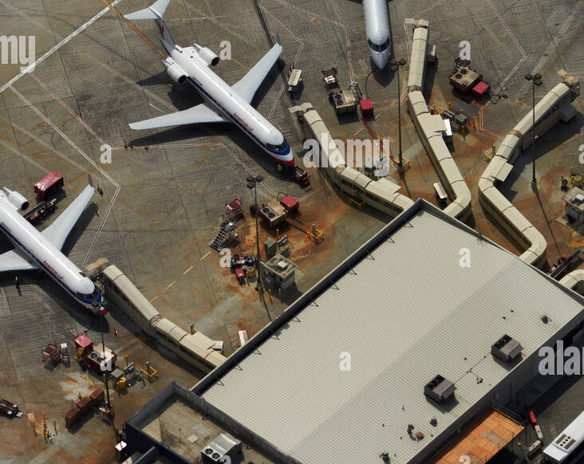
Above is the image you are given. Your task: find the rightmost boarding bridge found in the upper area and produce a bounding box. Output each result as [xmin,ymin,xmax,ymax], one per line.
[478,70,583,272]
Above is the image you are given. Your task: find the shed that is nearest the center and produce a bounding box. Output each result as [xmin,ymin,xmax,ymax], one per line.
[262,252,301,295]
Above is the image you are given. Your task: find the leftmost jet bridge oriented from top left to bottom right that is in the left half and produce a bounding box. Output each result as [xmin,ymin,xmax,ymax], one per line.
[84,257,226,381]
